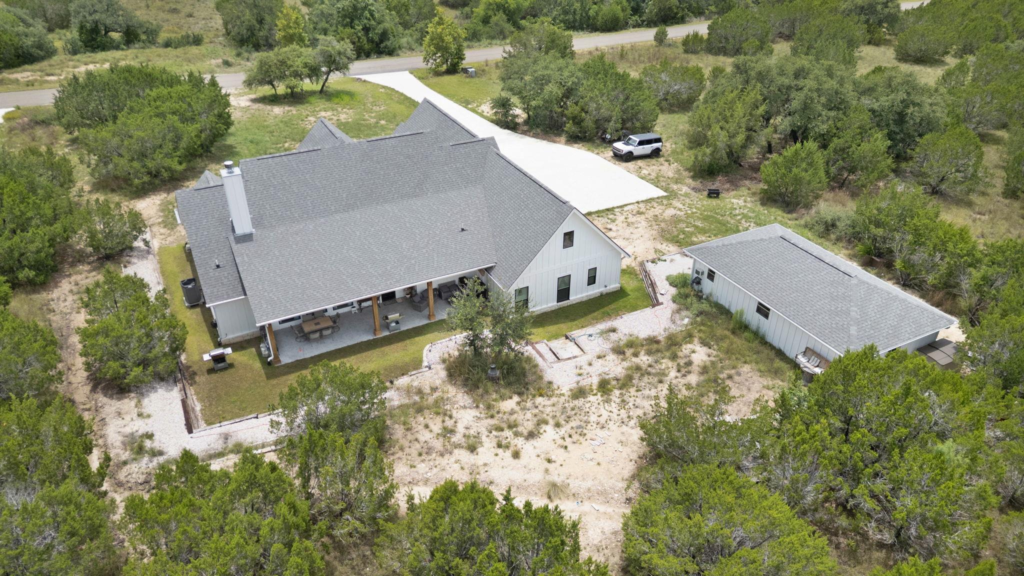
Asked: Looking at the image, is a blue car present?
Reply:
No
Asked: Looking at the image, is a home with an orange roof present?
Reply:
No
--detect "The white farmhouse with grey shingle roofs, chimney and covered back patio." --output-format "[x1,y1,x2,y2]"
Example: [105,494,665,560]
[174,98,632,377]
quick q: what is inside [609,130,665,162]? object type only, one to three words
car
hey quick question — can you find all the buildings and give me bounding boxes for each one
[683,223,958,376]
[174,98,632,377]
